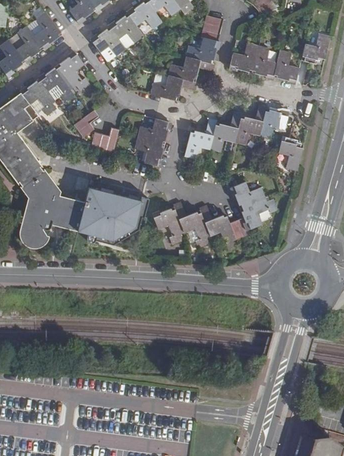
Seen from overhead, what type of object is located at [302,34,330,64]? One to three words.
house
